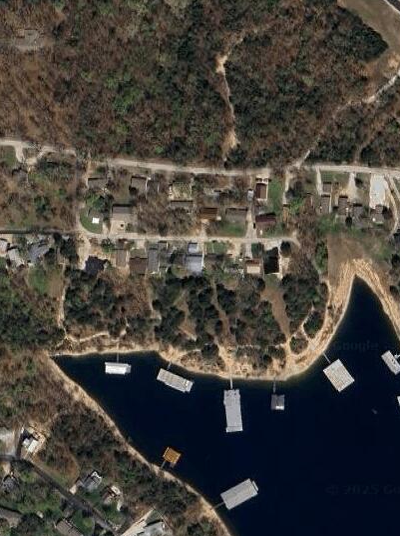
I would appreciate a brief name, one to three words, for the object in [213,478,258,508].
pier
